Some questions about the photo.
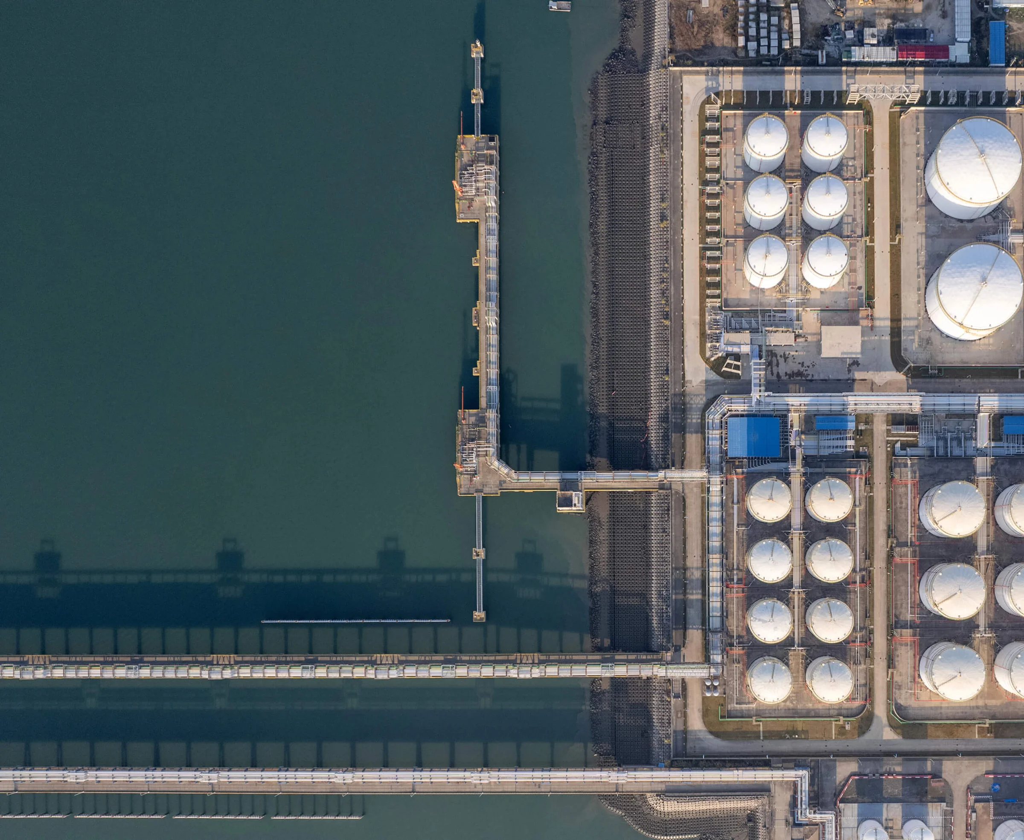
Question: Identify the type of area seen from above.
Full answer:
The area seen from above is an industrial area.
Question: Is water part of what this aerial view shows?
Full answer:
Yes, water shows up in the scene.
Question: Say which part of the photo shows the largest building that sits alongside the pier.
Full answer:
The largest building that sits alongside the pier is located in the center region of the scene.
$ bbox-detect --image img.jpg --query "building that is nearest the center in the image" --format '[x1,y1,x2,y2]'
[557,491,586,513]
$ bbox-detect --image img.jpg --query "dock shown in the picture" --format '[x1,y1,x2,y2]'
[455,134,667,496]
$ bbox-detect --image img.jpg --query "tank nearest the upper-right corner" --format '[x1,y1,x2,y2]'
[924,114,1024,220]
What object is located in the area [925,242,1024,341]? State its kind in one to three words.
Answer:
storage tank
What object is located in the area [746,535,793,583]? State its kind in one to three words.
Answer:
storage tank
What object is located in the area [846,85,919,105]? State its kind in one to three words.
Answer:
bridge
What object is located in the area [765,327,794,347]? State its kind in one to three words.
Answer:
building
